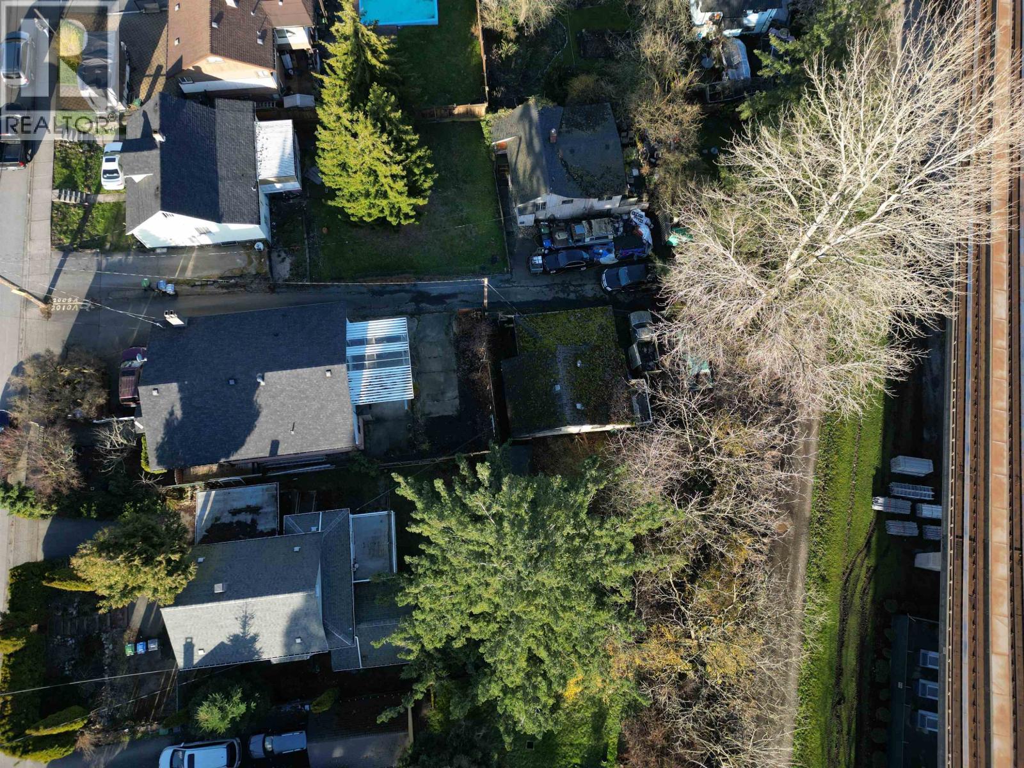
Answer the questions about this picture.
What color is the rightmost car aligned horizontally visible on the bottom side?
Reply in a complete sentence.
From above, the rightmost car aligned horizontally visible on the bottom side appears blue.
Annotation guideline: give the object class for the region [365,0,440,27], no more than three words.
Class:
swimming pool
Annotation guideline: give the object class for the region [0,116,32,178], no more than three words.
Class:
truck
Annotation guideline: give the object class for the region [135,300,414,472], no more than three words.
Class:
house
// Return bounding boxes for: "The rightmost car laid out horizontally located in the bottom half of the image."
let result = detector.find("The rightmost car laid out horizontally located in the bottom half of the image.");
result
[242,726,309,763]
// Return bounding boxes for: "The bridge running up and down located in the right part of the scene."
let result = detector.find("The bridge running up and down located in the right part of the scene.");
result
[928,0,1024,768]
